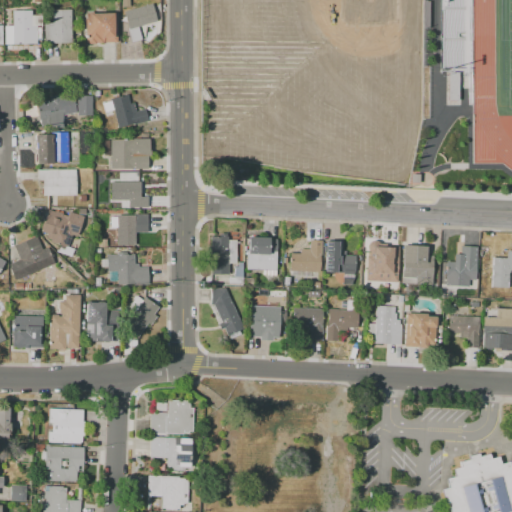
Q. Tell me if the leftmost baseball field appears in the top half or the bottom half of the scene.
top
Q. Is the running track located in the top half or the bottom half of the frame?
top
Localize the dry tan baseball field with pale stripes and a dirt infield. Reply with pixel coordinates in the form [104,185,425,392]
[204,0,422,184]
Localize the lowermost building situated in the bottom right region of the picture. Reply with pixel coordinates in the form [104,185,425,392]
[448,454,512,512]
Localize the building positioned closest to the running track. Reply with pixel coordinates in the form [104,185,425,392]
[450,72,462,100]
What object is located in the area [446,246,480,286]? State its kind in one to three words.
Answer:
house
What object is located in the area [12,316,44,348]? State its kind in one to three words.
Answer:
house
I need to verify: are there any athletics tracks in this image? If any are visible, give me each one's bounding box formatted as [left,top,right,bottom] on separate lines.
[473,0,512,170]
